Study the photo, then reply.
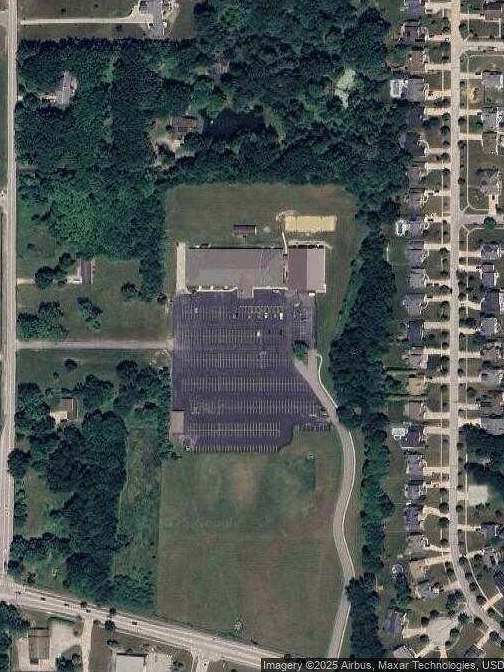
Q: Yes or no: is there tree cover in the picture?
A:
Yes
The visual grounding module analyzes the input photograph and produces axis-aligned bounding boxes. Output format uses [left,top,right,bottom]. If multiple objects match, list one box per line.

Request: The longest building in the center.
[188,248,326,296]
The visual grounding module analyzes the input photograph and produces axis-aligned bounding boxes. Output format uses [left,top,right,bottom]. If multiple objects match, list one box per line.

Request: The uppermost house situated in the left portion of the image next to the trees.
[141,0,167,37]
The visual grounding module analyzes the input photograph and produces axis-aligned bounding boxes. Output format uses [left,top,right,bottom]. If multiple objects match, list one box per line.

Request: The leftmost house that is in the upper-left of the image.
[59,70,71,104]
